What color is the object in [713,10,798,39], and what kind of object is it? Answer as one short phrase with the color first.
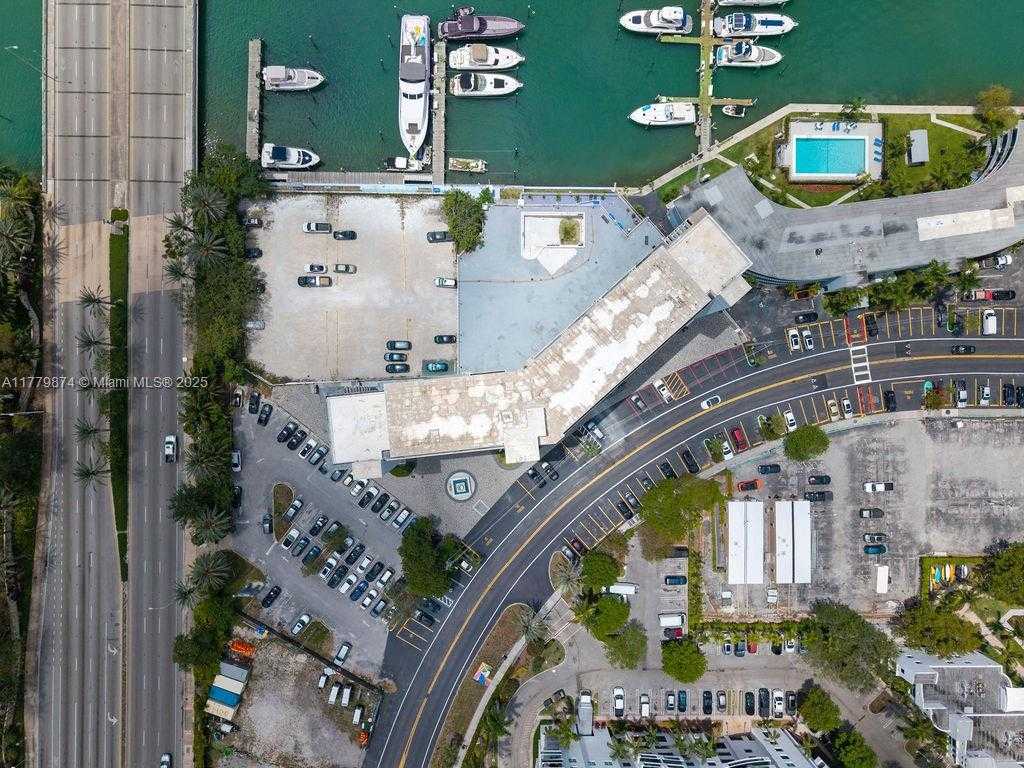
white boat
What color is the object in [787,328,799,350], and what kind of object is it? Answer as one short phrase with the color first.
white vehicle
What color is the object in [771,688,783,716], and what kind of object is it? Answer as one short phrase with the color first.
white vehicle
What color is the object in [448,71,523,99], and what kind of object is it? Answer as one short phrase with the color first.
white boat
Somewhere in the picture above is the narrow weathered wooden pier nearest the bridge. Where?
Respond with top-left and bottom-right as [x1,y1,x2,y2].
[245,37,264,163]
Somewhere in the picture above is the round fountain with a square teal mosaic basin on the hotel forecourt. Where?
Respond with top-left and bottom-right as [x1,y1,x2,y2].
[444,471,475,502]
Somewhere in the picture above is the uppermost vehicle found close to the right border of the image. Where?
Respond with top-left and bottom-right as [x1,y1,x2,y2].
[982,256,1013,269]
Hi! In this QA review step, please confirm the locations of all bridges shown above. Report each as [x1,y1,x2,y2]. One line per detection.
[41,0,200,180]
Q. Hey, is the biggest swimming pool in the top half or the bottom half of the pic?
top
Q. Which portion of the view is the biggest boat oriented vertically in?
top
